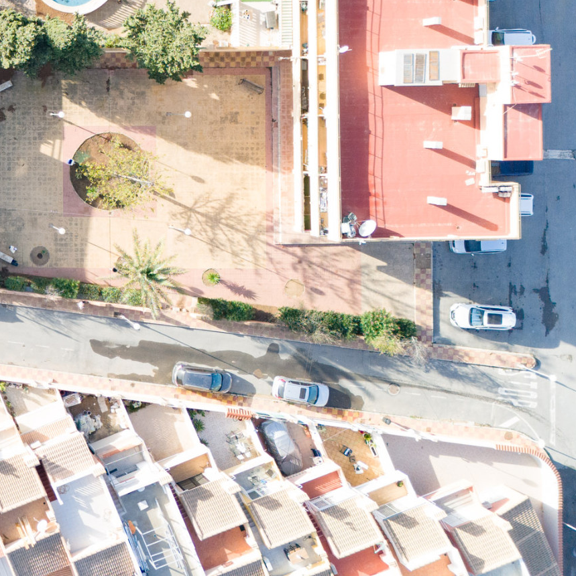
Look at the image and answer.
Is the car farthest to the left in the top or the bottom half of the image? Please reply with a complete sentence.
You can find the car farthest to the left in the bottom half.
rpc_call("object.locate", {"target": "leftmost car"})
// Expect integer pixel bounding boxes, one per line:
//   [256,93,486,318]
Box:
[170,362,233,396]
